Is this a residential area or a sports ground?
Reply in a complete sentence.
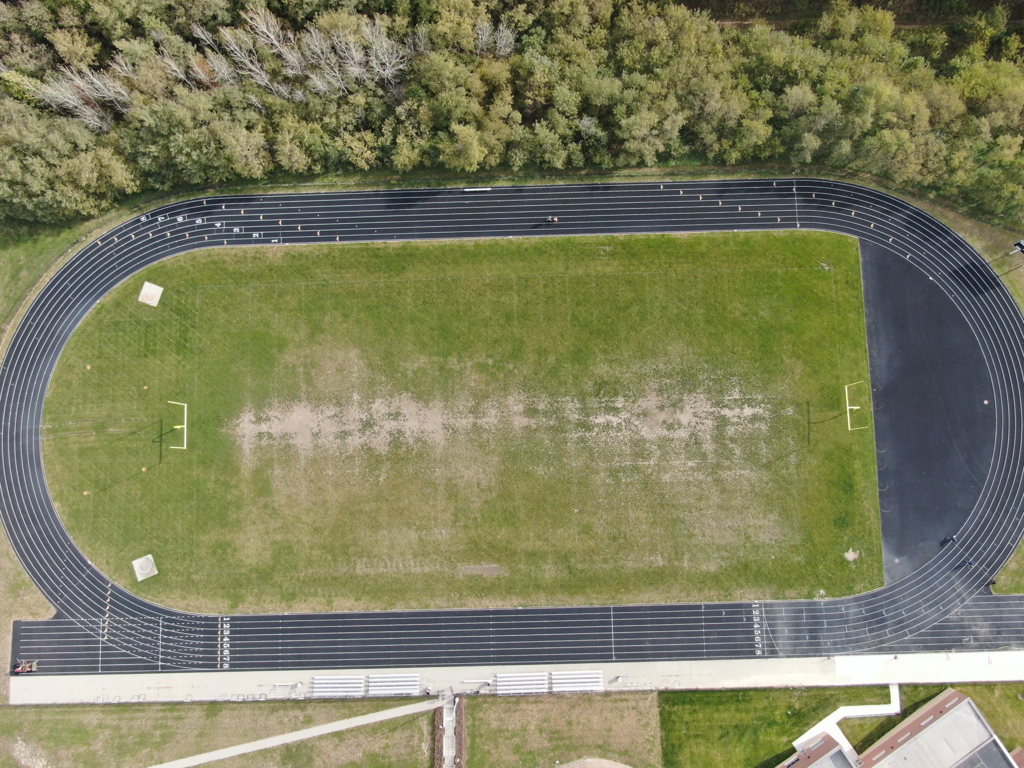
The area seen from above is a sports ground.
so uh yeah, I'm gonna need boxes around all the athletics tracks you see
[0,178,1024,678]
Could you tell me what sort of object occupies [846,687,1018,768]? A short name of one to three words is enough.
building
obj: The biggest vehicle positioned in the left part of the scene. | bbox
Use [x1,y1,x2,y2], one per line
[12,661,35,676]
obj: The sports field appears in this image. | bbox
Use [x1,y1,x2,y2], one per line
[42,230,884,614]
